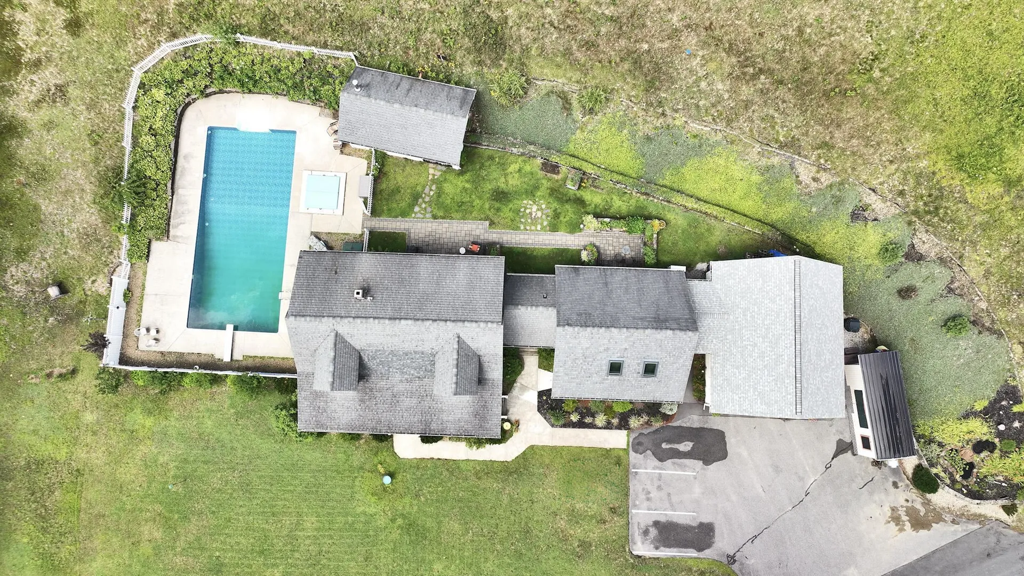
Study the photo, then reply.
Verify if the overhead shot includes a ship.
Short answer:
No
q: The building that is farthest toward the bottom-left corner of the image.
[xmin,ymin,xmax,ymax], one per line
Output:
[284,249,509,439]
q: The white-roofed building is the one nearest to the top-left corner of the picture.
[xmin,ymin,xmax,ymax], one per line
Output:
[338,65,478,174]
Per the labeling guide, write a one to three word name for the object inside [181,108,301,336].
swimming pool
